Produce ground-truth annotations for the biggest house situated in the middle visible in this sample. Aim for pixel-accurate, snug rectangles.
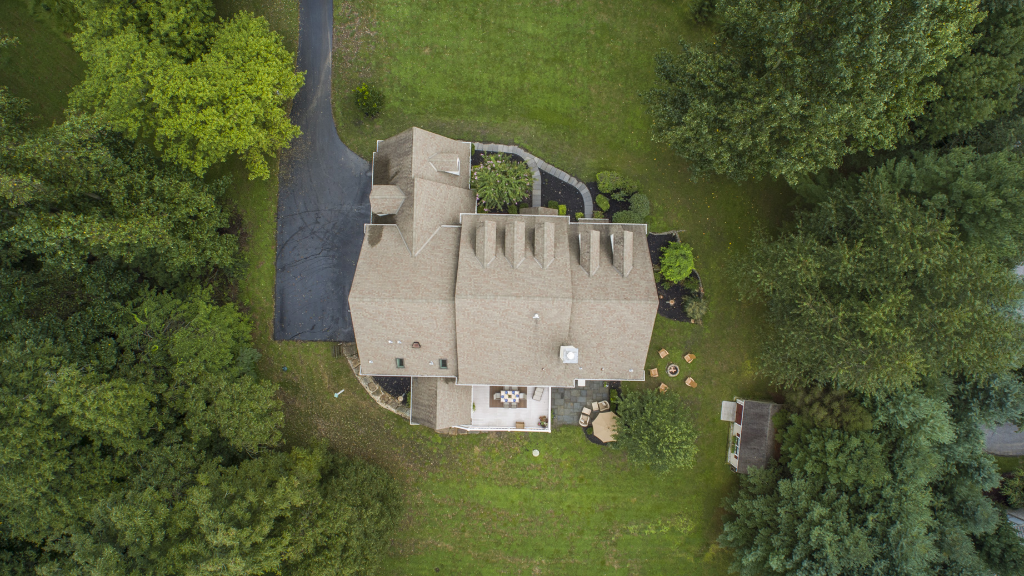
[347,127,659,430]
